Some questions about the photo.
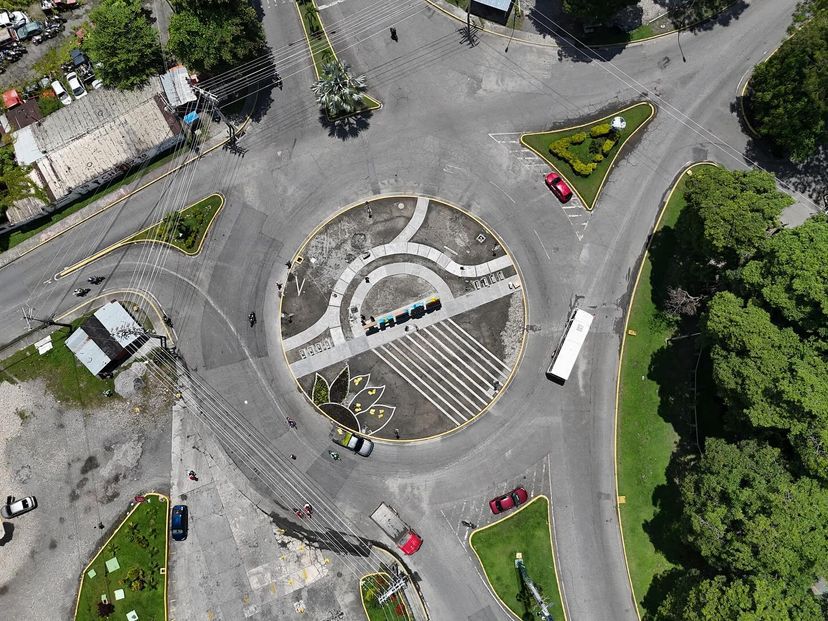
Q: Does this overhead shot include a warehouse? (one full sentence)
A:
Yes, a warehouse is visible in the scene.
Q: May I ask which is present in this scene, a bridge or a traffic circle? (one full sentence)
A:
Of the two, only a traffic circle appears.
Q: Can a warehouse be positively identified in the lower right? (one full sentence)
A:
No, there's no warehouse to be seen in the lower right.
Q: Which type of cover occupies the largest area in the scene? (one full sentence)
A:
The largest share of the image is taken up by paved ground.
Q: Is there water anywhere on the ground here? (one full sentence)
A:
No, there's no water in this view.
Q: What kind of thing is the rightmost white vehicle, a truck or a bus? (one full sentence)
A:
Specifically, the rightmost white vehicle is a bus.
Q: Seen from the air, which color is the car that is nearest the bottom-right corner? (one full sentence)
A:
The color of the car that is nearest the bottom-right corner is red.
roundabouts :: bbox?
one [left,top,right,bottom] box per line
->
[279,198,527,446]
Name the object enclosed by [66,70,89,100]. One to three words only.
car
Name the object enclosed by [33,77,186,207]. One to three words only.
warehouse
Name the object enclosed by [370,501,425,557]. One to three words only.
truck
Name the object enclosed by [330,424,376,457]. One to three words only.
truck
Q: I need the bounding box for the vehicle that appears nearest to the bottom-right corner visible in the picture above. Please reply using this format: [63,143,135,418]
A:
[488,487,529,513]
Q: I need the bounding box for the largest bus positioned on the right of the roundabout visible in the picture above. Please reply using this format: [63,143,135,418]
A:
[544,308,595,382]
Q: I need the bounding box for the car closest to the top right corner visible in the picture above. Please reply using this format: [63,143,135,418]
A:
[544,174,572,204]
